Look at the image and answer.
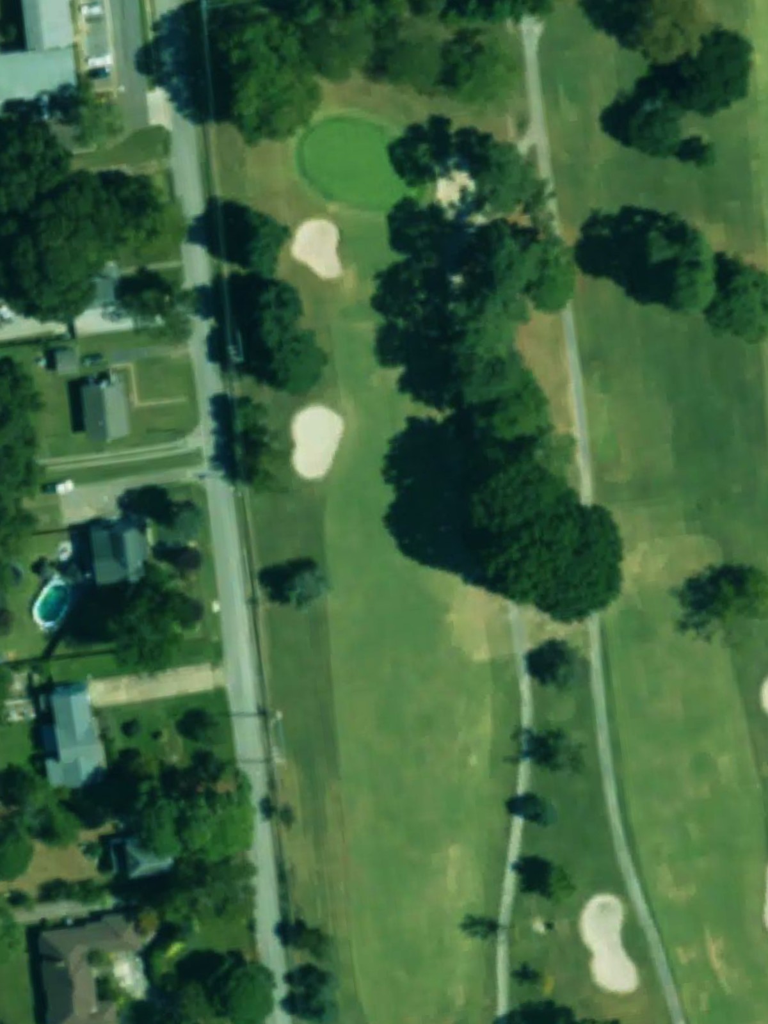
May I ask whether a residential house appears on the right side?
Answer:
No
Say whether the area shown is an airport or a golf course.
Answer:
golf course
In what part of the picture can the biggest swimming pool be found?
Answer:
left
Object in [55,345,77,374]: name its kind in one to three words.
shed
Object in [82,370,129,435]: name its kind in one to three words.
house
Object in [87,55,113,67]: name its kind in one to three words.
vehicle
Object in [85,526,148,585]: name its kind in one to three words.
house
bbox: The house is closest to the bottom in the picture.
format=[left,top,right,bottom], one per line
[39,912,152,1024]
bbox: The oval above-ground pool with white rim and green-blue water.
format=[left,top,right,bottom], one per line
[31,571,72,632]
